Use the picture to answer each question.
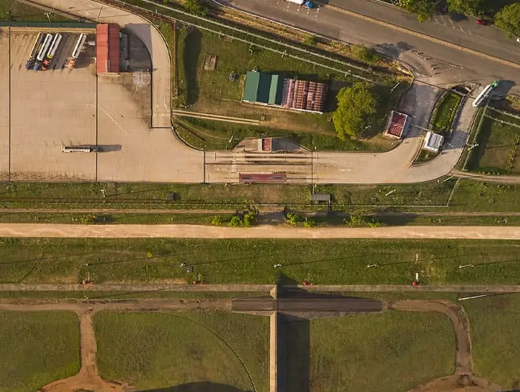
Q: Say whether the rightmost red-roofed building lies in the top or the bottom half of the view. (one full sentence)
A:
The rightmost red-roofed building is in the top half of the image.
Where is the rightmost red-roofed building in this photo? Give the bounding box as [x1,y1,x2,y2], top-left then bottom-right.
[382,112,408,141]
